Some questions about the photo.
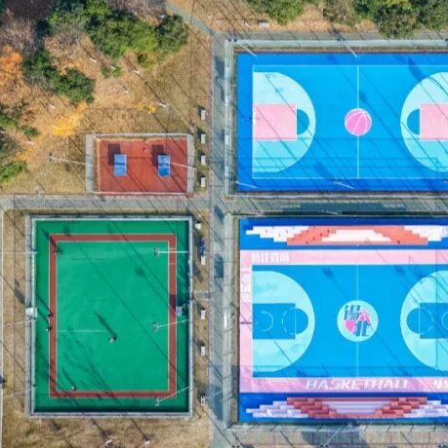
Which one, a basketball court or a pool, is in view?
basketball court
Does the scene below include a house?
No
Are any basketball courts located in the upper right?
Yes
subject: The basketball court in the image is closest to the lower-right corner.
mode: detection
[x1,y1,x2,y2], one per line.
[239,216,448,423]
